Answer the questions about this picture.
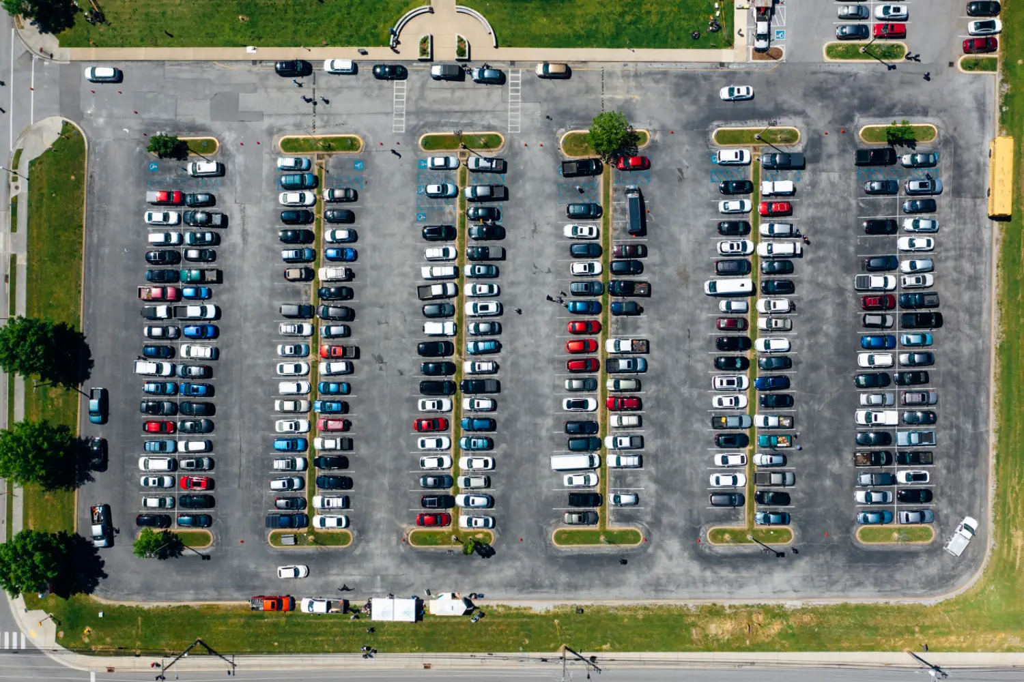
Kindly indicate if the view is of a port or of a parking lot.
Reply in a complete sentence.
The area seen from above is a parking lot.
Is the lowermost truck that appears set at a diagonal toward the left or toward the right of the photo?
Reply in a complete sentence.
The lowermost truck that appears set at a diagonal appears in the right half of the scene.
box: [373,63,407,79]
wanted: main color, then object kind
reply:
black car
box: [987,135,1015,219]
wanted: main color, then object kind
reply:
yellow bus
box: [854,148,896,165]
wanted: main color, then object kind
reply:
black vehicle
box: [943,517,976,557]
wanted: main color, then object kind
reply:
white truck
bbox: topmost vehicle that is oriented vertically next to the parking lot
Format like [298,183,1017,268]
[754,6,772,53]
